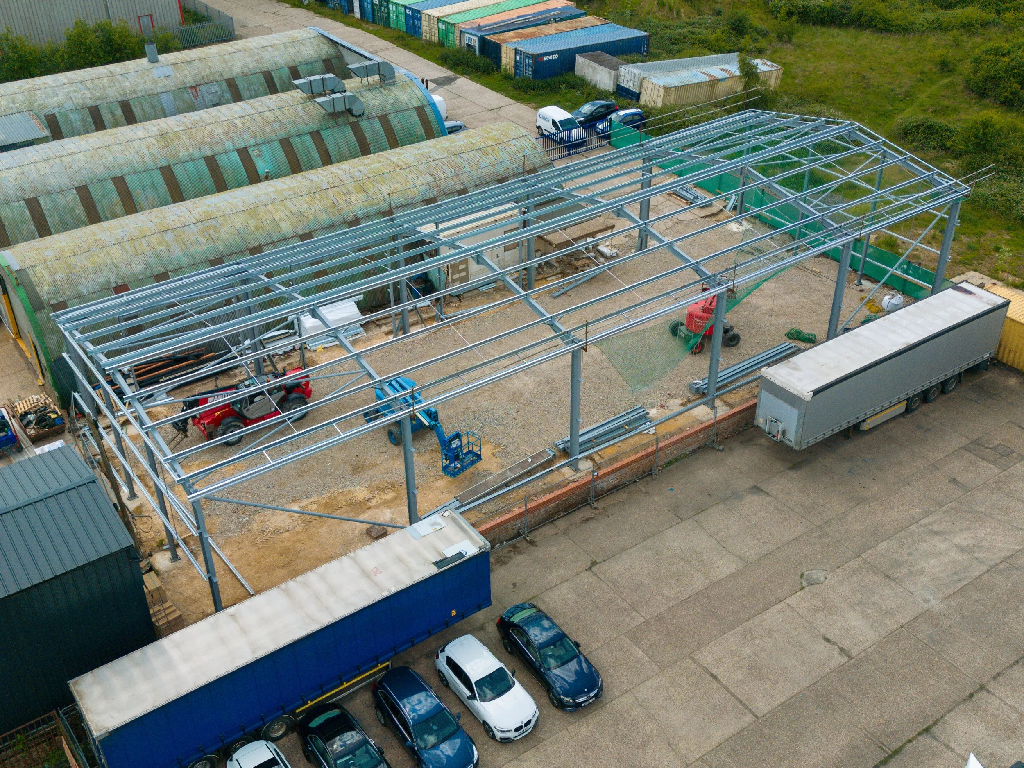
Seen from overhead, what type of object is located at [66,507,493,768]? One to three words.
trailer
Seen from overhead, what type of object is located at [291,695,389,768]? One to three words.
car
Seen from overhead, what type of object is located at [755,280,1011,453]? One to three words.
trailer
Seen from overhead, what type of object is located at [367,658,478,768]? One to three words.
car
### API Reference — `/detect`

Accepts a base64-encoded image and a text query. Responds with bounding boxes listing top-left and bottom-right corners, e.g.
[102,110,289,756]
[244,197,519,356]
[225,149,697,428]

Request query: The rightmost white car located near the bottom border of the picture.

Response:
[434,632,539,743]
